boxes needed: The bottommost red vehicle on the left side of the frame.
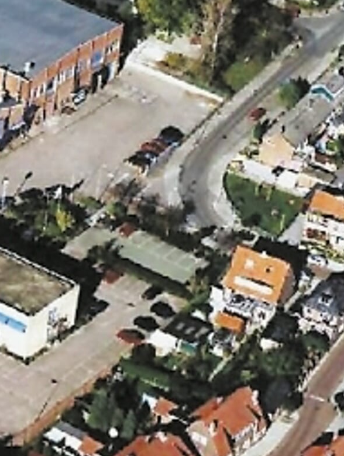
[116,327,145,345]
